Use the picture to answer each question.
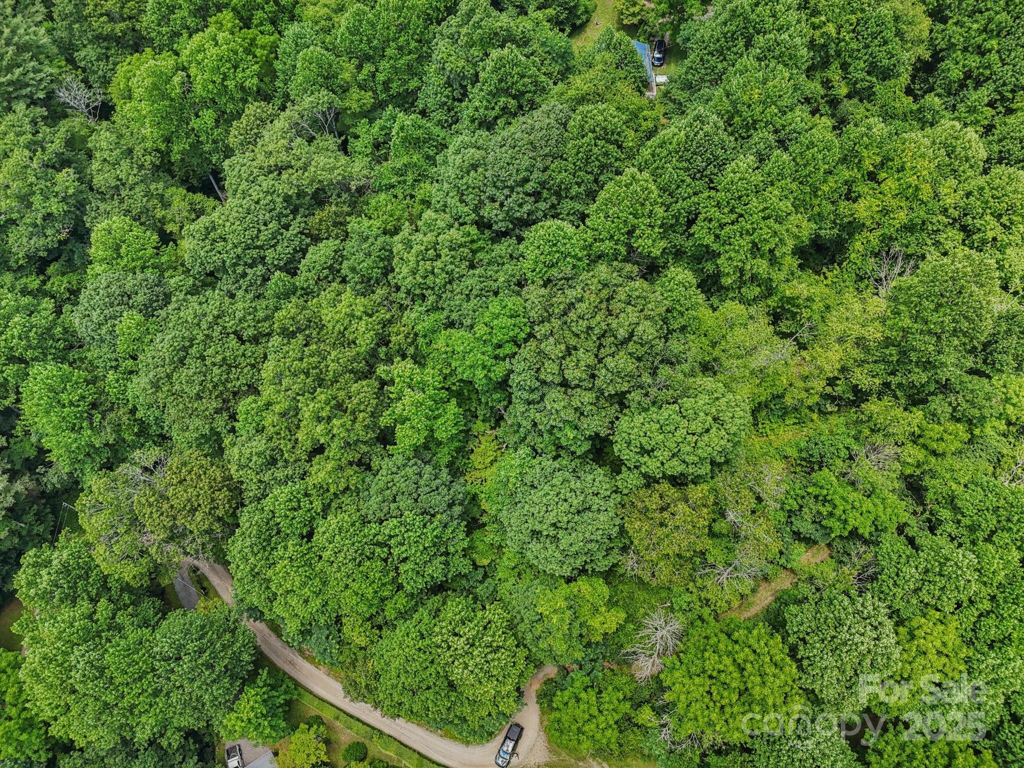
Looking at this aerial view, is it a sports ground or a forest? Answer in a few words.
forest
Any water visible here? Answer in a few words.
No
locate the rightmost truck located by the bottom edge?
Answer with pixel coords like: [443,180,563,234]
[494,720,524,768]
